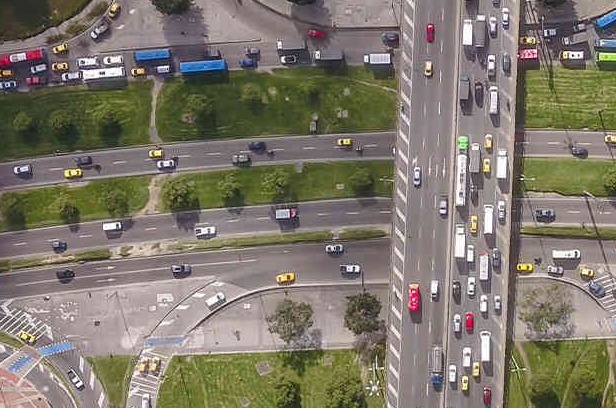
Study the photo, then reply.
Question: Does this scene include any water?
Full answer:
No, the picture contains no water.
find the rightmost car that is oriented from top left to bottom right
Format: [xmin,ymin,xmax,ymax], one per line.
[588,279,604,296]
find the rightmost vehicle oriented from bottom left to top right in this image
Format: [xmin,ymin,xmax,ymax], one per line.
[594,10,616,30]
